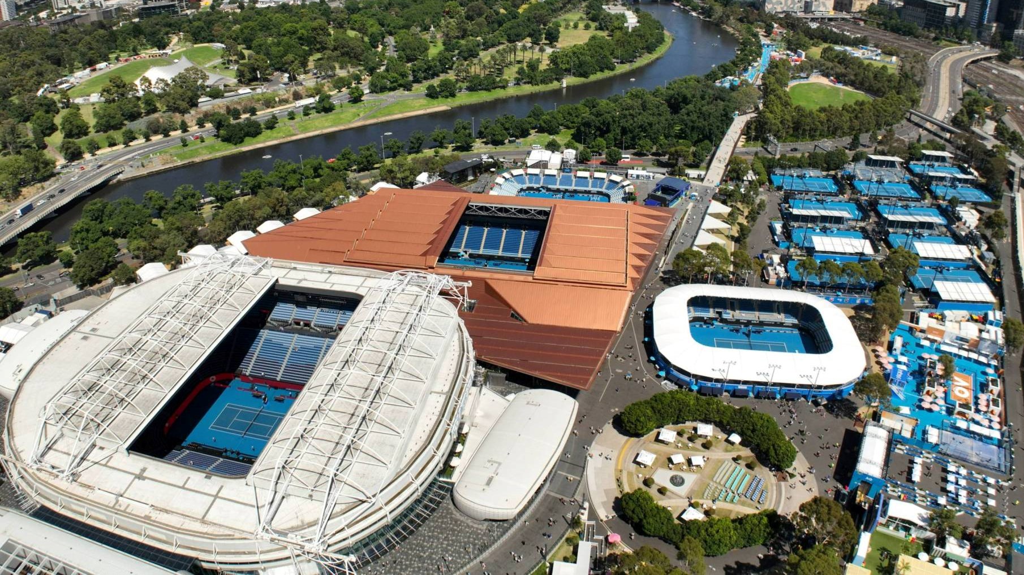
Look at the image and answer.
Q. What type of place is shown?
sports ground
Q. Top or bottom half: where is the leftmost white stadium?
bottom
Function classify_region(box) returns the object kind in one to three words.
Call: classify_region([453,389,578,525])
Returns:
building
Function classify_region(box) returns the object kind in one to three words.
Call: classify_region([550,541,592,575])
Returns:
building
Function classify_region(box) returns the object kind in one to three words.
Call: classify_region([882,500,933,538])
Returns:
tent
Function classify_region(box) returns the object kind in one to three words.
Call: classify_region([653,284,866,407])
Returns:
stadium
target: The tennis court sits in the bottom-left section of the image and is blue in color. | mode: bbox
[167,382,308,459]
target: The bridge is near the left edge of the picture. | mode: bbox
[0,154,149,229]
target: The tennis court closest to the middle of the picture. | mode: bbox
[443,257,535,272]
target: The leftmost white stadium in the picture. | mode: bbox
[0,249,481,575]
